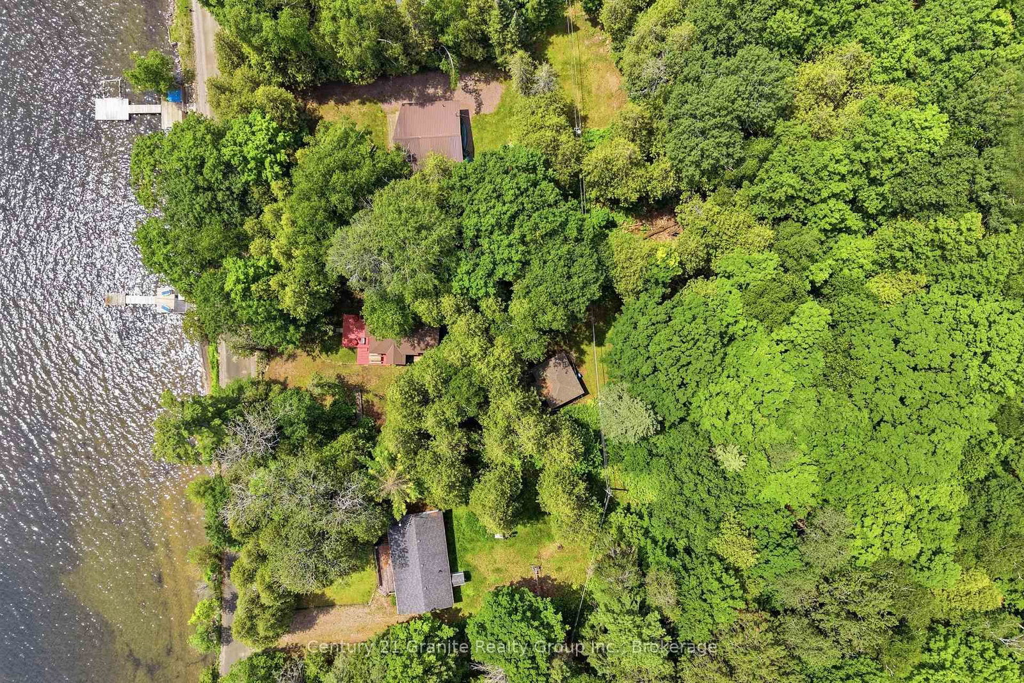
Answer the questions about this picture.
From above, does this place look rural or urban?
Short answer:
rural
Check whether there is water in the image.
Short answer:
Yes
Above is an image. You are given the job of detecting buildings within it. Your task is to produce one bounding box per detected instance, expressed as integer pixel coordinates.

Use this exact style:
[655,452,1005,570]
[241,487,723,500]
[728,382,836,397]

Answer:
[377,509,466,614]
[532,352,585,409]
[391,95,462,182]
[341,312,439,365]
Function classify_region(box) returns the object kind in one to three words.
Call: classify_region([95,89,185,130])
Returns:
pier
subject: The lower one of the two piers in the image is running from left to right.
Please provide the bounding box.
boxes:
[104,287,194,313]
